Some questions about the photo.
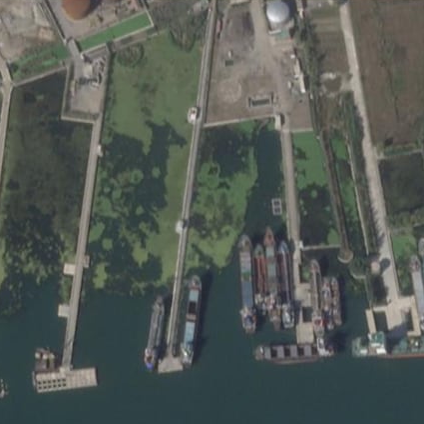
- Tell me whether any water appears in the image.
Yes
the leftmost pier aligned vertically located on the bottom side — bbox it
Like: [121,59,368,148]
[36,120,103,392]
